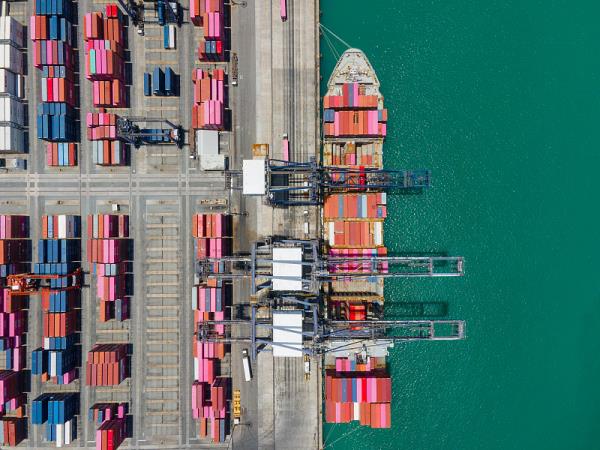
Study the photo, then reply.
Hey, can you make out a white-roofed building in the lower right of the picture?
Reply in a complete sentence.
No, the scene shows no white-roofed building in the lower right of the picture.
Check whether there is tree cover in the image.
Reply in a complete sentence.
No, there's no tree cover in this view.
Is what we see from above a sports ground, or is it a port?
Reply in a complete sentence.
What you see here is a port.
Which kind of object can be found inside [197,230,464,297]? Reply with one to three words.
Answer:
container crane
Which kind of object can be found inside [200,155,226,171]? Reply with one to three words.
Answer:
building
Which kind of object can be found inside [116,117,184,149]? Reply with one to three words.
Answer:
container crane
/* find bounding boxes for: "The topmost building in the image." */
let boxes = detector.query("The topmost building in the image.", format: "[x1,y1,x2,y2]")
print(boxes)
[197,130,220,155]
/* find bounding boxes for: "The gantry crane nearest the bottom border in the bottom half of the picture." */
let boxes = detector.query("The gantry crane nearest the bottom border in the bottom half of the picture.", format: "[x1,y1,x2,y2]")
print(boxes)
[197,284,465,360]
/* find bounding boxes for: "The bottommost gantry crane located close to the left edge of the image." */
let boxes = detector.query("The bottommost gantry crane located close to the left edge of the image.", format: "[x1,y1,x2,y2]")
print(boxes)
[2,266,84,294]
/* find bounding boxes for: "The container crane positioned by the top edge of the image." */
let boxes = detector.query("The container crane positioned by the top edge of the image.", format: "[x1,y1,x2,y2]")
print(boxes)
[118,0,184,26]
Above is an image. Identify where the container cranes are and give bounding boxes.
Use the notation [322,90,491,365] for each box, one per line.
[197,284,465,360]
[224,157,430,213]
[2,266,84,294]
[197,230,464,297]
[118,0,184,26]
[116,117,184,149]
